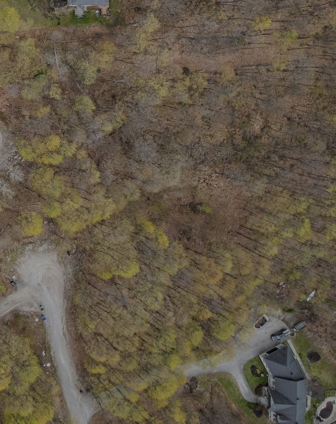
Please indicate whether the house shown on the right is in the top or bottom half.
bottom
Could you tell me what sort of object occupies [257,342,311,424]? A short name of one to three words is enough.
house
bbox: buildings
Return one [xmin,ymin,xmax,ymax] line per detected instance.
[257,342,311,424]
[66,0,109,19]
